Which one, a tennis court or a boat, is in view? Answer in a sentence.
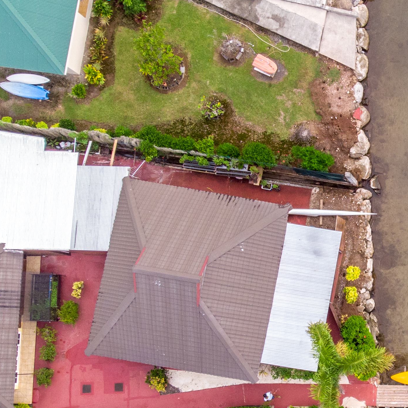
I can see a boat in this picture.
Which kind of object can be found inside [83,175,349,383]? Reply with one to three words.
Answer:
house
